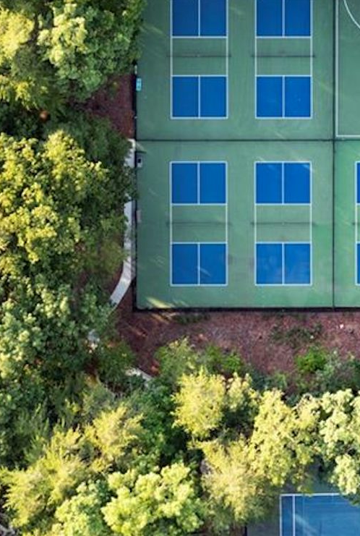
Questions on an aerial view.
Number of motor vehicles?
zero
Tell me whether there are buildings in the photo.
No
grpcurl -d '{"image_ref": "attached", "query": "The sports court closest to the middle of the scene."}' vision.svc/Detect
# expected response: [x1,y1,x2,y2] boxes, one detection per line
[170,162,228,286]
